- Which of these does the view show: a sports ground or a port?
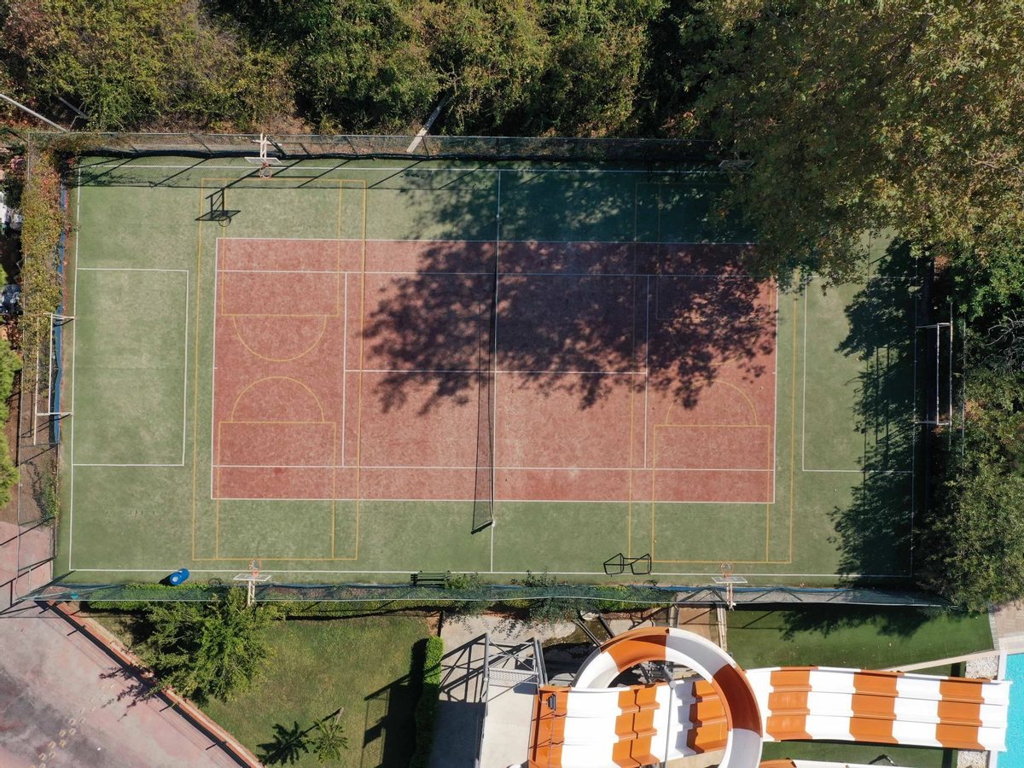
sports ground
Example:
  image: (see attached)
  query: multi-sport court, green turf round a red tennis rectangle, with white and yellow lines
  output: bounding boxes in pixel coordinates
[53,152,931,590]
